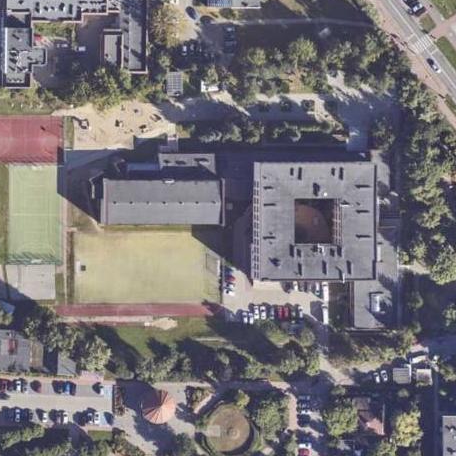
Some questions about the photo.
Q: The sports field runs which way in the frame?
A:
from side to side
